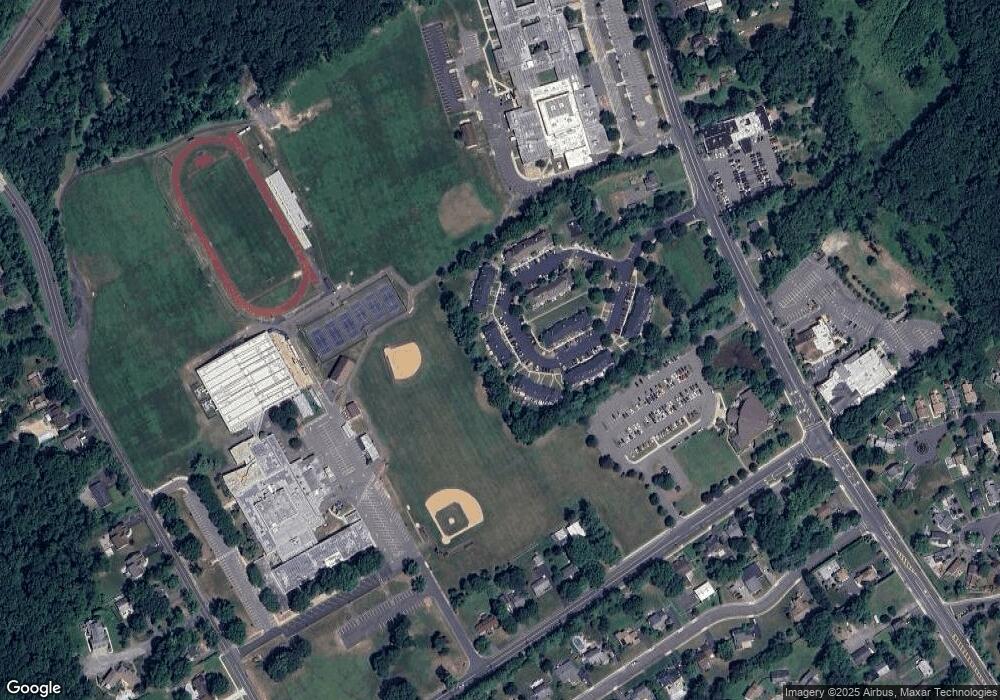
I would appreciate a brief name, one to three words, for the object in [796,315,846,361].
building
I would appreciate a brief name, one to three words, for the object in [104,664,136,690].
house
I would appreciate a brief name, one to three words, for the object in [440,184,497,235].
baseball field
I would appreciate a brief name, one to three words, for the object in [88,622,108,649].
house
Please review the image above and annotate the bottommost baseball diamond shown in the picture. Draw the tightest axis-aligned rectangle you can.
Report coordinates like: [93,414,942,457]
[426,489,482,548]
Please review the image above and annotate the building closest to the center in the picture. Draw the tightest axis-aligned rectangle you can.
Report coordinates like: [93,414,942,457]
[483,320,515,367]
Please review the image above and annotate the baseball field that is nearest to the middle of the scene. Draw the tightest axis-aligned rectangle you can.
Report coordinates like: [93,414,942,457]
[382,340,423,381]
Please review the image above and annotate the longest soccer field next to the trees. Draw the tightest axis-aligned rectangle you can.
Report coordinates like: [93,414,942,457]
[181,144,300,308]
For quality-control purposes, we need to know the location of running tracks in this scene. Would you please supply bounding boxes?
[171,132,318,317]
